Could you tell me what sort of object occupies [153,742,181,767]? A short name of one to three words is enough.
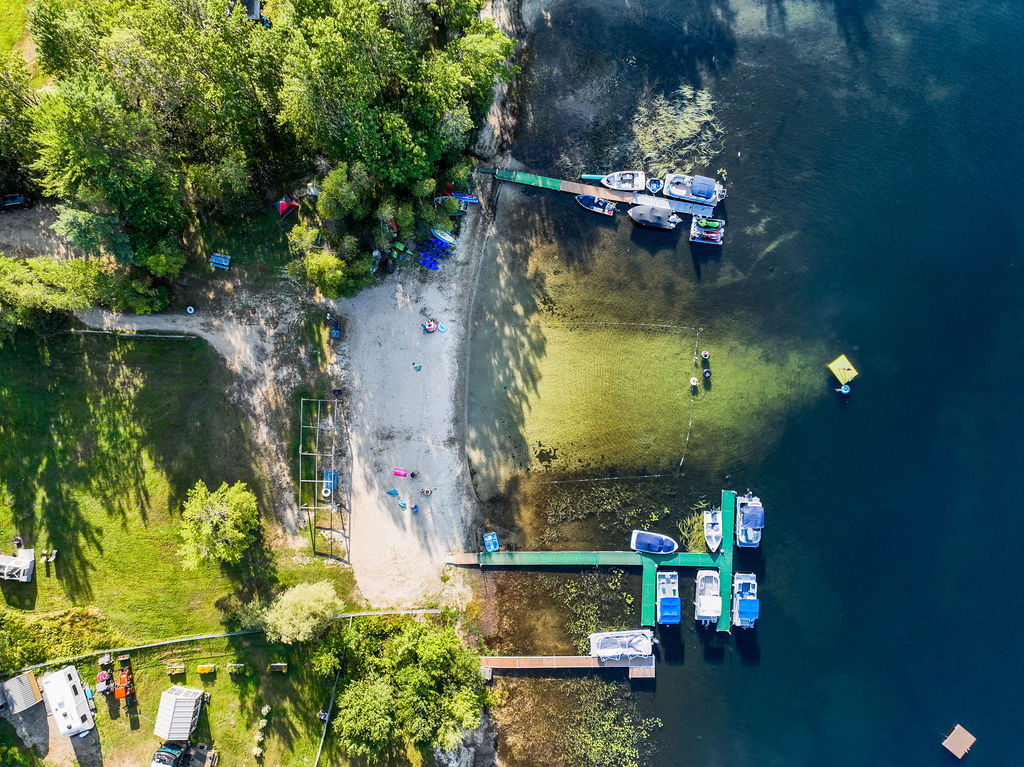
truck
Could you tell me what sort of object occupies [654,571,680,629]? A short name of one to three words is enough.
boat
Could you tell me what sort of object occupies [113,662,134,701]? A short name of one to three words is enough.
work vehicle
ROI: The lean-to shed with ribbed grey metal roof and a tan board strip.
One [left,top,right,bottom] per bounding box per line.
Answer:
[0,669,45,717]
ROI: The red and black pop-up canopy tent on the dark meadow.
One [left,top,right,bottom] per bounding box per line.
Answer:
[270,190,299,222]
